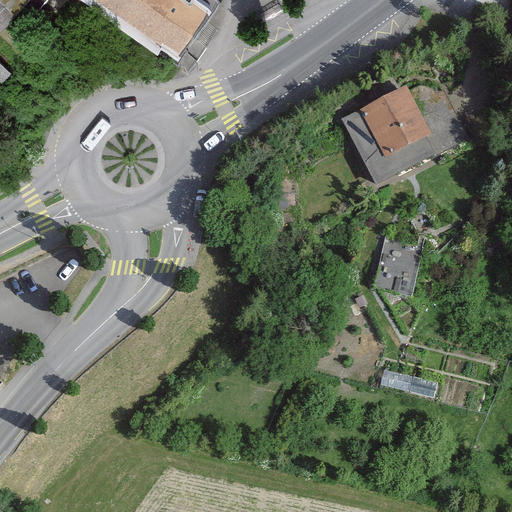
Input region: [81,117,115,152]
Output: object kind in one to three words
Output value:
bus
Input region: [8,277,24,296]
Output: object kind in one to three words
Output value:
car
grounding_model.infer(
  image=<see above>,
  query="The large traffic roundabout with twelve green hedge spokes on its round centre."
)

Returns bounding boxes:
[55,84,205,234]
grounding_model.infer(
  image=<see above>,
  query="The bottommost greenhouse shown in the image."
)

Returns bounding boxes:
[380,368,438,398]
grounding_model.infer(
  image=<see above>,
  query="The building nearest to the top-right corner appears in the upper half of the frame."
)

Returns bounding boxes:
[342,85,436,182]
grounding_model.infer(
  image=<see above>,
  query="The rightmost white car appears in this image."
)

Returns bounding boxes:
[202,132,226,152]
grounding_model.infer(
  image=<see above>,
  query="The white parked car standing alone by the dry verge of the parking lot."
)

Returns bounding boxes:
[58,258,78,282]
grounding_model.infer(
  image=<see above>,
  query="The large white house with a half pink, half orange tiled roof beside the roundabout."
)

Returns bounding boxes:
[84,0,213,61]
